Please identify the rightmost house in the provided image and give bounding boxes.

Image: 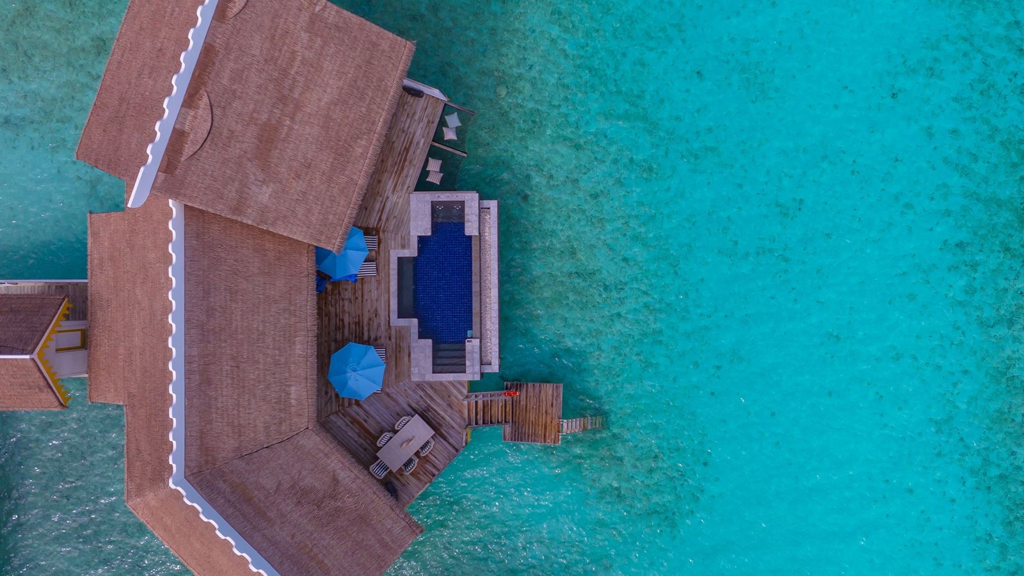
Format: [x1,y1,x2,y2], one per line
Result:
[76,0,424,576]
